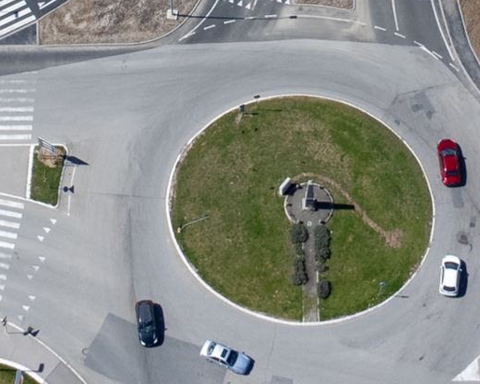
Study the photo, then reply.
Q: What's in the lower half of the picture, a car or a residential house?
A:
car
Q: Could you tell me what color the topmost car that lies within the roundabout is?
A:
red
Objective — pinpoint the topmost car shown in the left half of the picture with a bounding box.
[136,300,161,347]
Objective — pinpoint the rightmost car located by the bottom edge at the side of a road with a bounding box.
[198,339,252,376]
